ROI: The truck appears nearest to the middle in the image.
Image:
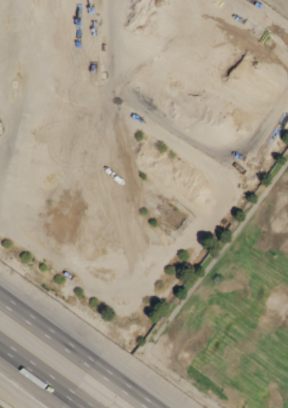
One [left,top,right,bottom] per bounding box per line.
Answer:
[104,164,127,186]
